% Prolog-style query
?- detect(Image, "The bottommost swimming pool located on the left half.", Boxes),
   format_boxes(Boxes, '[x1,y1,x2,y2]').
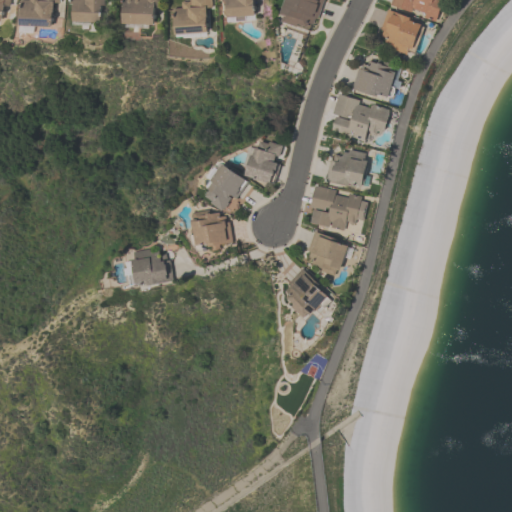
[114,263,128,284]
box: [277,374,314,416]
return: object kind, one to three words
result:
sports field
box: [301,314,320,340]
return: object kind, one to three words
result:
swimming pool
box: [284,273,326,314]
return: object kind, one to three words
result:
house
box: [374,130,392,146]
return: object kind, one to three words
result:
swimming pool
